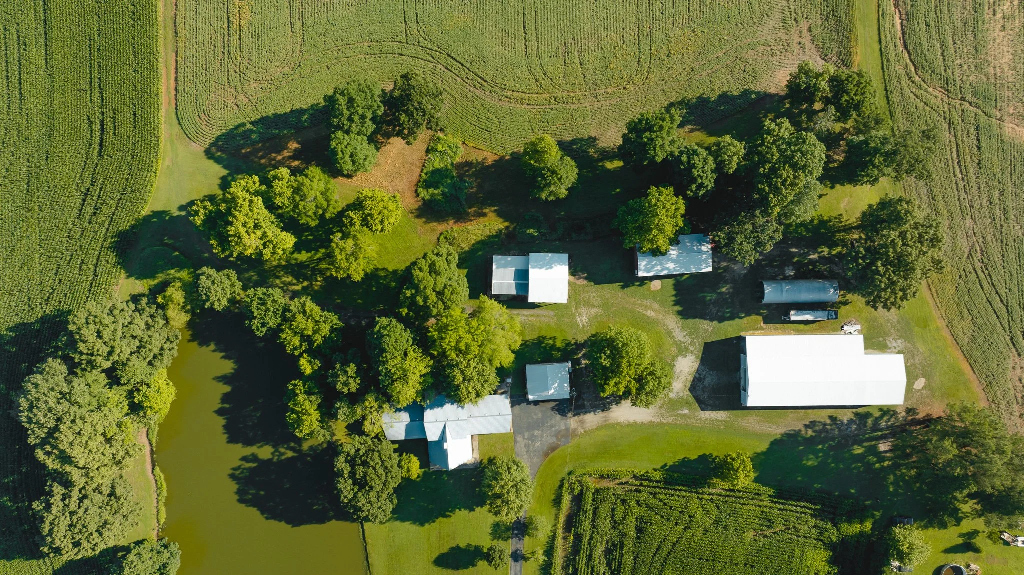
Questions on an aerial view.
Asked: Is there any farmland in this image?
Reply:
Yes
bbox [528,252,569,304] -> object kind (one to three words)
barn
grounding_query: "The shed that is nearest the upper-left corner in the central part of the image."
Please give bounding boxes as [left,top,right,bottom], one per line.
[493,255,528,294]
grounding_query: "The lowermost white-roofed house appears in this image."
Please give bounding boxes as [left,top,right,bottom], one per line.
[384,393,512,471]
